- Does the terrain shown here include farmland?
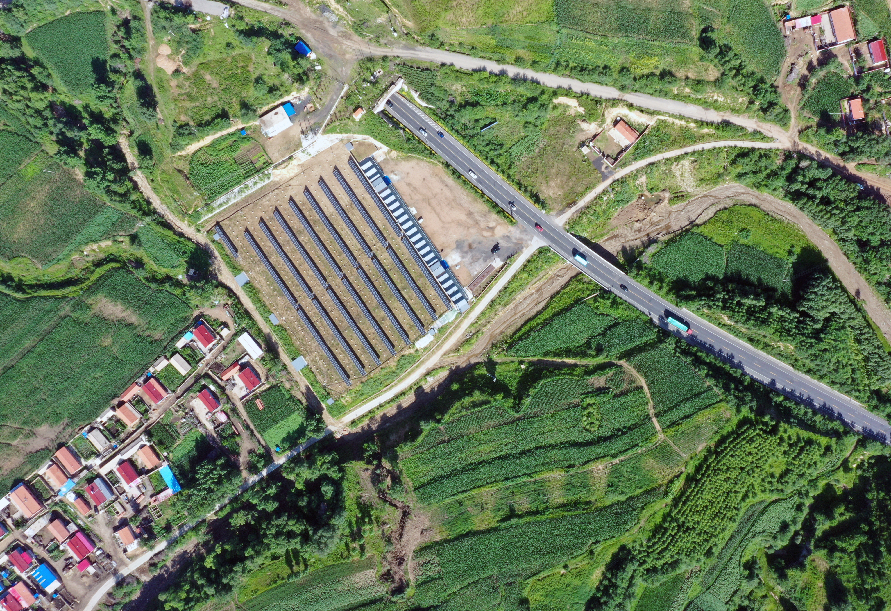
Yes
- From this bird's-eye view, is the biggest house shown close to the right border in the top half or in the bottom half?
top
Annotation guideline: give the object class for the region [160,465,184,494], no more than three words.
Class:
barn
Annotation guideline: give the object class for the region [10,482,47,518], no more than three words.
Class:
house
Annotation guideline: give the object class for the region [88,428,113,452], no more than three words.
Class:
house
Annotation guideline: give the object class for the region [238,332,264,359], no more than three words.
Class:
barn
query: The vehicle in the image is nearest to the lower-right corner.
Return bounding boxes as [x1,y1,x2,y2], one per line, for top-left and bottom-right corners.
[665,316,691,334]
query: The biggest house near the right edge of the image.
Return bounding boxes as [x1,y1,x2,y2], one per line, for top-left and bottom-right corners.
[826,9,855,45]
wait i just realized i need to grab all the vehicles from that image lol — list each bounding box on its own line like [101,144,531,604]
[492,246,500,255]
[437,131,446,138]
[573,254,587,266]
[419,127,428,136]
[385,99,394,108]
[620,284,629,292]
[665,316,691,334]
[468,170,477,178]
[509,203,519,211]
[535,225,544,233]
